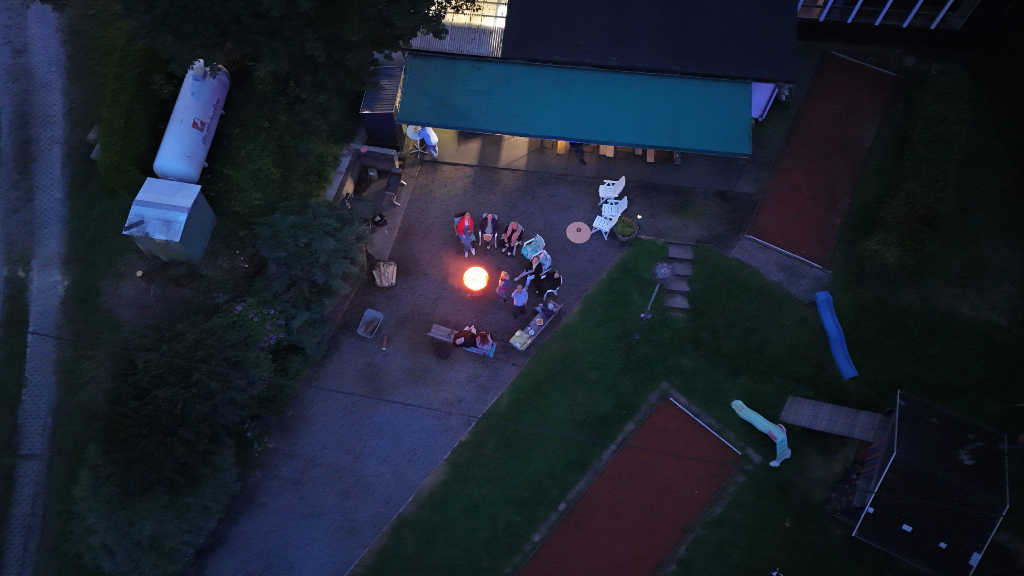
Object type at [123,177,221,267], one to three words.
shed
